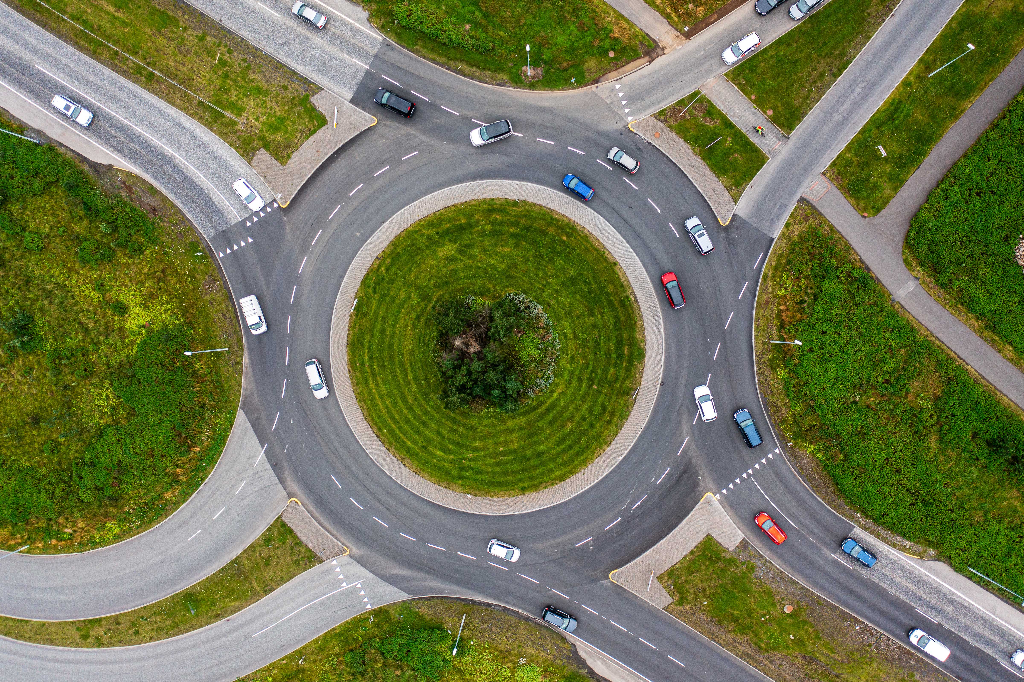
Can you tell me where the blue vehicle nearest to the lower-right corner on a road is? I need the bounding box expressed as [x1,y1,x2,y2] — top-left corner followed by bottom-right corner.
[840,537,879,570]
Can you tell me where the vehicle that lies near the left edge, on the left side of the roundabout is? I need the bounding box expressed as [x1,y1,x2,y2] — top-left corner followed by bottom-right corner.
[50,93,95,126]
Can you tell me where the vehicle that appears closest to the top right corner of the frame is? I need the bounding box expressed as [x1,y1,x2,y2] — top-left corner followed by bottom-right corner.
[787,0,827,21]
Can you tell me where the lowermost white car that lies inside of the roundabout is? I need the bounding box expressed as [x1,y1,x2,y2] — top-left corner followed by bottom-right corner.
[487,539,521,563]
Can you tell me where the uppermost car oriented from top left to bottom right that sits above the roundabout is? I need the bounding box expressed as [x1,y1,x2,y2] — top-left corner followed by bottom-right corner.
[291,1,328,30]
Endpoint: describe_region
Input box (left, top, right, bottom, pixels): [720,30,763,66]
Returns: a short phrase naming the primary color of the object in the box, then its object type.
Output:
white car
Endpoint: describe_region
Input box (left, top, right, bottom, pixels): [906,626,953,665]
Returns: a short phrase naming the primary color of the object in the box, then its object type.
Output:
white van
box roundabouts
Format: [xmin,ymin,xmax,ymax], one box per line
[219,69,873,605]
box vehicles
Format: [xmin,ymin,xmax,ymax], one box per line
[238,294,267,337]
[661,271,687,310]
[734,408,764,449]
[291,1,328,30]
[487,539,521,563]
[303,358,329,400]
[787,0,827,21]
[720,30,763,66]
[373,87,418,119]
[50,93,95,126]
[469,118,513,147]
[561,173,596,202]
[1009,649,1024,670]
[231,176,266,212]
[693,385,717,423]
[607,147,641,174]
[541,606,578,634]
[684,215,715,255]
[840,537,879,570]
[906,626,953,665]
[753,511,788,546]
